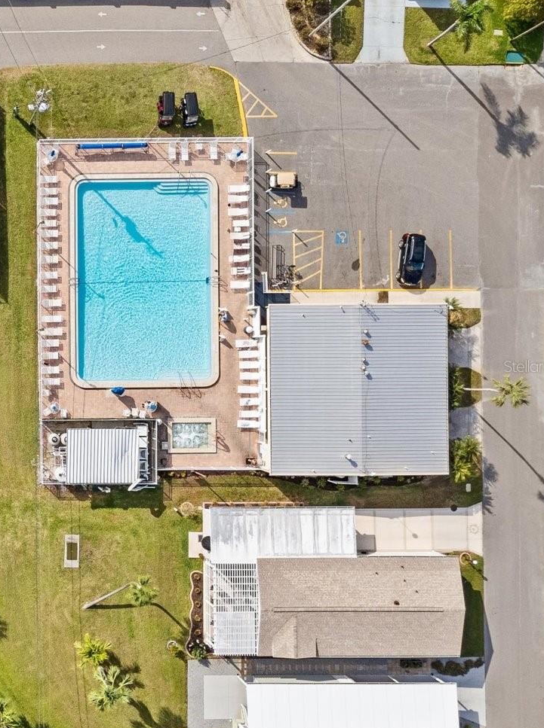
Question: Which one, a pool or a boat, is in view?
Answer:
pool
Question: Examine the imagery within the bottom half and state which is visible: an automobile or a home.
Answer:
home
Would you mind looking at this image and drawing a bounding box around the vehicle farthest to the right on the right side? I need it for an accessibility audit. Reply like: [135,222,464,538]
[400,233,432,287]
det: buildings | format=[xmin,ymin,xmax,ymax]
[205,506,465,659]
[263,300,451,477]
[67,429,139,485]
[228,680,460,728]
